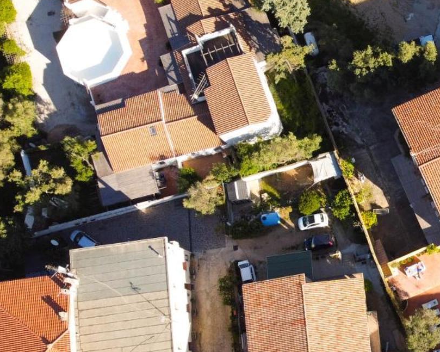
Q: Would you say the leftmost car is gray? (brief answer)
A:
No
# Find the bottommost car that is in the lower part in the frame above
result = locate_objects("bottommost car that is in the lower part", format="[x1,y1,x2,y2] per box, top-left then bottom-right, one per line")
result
[237,255,258,288]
